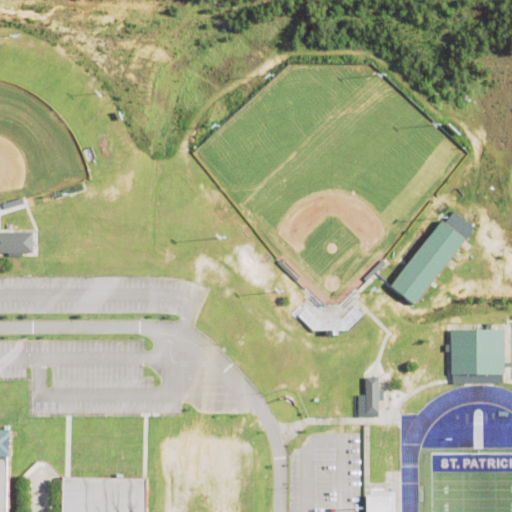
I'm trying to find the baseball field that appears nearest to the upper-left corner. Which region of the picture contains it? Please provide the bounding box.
[0,82,86,204]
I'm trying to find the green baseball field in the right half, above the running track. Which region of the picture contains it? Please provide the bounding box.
[197,66,466,304]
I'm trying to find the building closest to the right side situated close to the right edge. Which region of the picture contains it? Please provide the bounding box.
[451,330,504,384]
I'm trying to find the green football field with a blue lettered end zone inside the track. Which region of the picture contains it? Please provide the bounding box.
[420,448,512,512]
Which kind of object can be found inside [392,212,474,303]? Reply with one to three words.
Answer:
barn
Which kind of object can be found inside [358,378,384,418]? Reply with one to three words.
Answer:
building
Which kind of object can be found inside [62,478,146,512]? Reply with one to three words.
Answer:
building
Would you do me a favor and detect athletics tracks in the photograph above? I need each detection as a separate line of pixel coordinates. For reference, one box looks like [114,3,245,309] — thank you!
[402,386,512,512]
